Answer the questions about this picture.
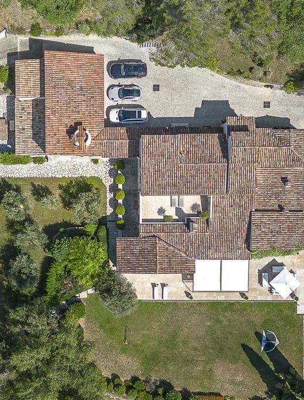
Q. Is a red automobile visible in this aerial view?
No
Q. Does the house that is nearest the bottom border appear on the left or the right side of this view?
right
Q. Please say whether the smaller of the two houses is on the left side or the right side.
left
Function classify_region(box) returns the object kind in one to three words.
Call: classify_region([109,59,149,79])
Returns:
car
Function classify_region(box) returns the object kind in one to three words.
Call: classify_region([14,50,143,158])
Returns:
house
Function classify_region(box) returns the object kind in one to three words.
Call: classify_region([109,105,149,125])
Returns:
car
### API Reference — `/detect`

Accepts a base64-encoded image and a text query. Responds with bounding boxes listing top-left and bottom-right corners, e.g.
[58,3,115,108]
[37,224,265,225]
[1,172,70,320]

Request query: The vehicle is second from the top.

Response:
[107,83,143,102]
